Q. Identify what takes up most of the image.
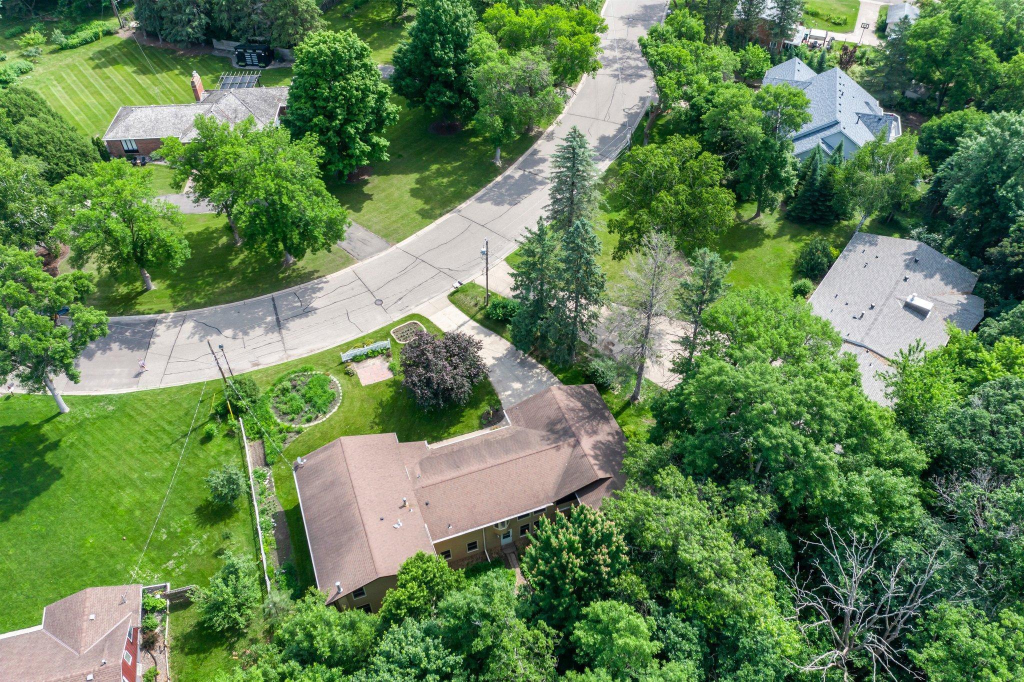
trees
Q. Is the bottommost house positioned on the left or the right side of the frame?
left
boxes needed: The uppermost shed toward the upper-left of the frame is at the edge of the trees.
[231,42,272,66]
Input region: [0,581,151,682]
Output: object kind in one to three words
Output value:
house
